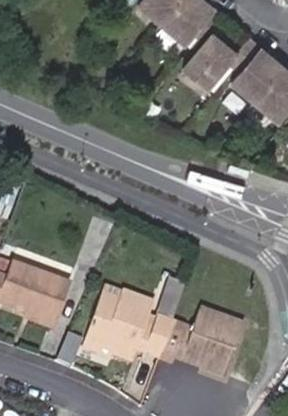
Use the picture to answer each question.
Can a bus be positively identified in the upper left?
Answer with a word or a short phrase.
No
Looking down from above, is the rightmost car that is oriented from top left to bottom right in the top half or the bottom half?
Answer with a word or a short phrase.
top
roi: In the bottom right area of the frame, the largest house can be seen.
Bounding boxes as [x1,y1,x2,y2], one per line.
[184,304,245,380]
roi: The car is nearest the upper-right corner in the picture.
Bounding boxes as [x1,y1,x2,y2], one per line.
[257,26,278,46]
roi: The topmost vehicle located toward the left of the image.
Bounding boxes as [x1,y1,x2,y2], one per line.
[62,298,75,318]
